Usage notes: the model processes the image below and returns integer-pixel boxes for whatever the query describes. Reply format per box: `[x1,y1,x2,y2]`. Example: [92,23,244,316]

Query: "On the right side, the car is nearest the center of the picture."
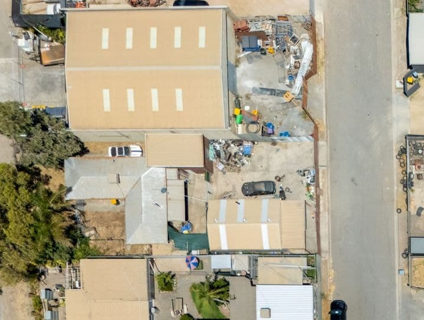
[242,180,278,198]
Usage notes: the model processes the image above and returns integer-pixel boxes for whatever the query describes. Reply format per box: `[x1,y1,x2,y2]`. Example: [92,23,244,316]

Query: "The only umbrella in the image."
[186,256,199,269]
